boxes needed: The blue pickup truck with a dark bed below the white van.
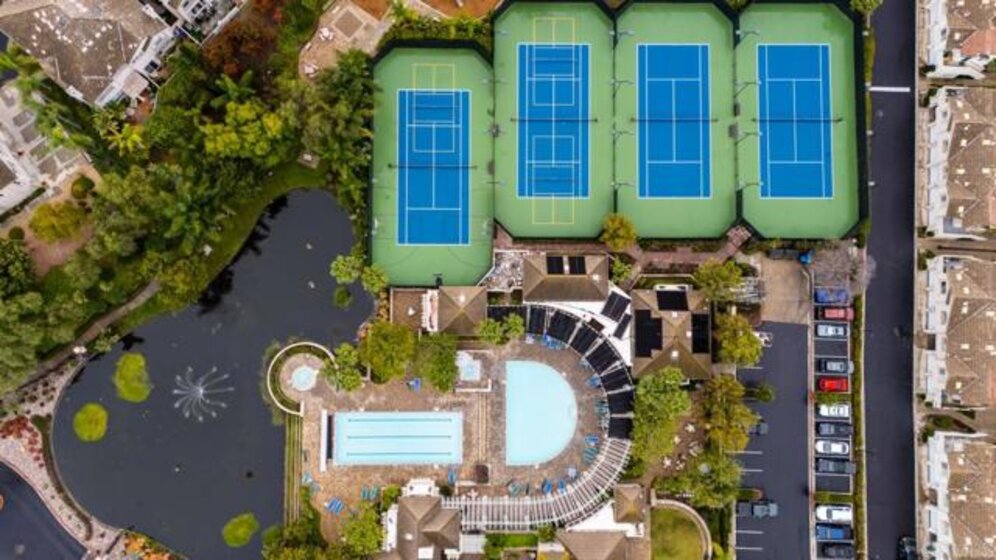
[816,526,856,543]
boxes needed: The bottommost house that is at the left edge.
[0,152,34,217]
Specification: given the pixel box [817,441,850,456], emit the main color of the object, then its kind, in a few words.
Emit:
white car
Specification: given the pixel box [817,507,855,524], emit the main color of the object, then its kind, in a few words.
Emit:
white vehicle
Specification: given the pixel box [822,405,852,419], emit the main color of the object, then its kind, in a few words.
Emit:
white vehicle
